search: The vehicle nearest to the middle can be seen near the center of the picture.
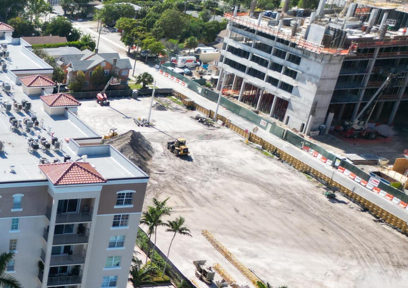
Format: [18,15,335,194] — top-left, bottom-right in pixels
[159,137,194,156]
